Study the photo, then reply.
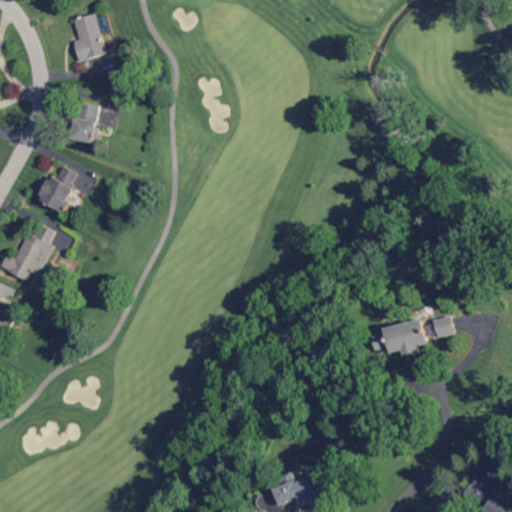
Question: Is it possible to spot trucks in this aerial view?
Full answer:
No, no truck is visible in the view.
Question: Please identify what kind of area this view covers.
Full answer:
The area seen from above is a golf course.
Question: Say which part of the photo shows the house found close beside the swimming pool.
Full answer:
The house found close beside the swimming pool appears toward the top left of the photo.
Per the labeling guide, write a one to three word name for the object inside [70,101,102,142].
house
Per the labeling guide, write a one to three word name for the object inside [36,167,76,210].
house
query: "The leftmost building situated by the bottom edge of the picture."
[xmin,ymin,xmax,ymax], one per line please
[268,474,308,508]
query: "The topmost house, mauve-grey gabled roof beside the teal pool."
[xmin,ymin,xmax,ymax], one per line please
[72,14,104,60]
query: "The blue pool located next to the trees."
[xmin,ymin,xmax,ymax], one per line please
[97,14,114,39]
